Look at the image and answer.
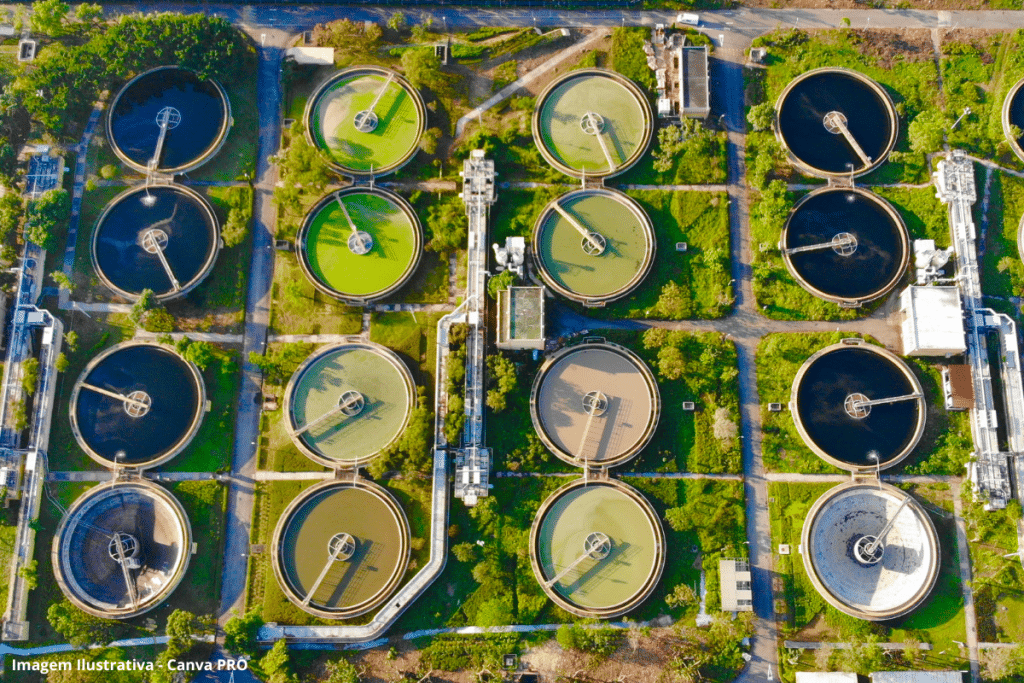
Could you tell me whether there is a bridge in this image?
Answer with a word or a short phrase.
Yes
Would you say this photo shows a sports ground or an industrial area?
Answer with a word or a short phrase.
industrial area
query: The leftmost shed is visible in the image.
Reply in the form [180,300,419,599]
[290,47,337,71]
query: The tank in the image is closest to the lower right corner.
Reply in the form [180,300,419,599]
[795,468,941,619]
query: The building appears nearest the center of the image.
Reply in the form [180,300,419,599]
[497,285,548,350]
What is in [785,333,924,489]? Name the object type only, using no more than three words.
storage tank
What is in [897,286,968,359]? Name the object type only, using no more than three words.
building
